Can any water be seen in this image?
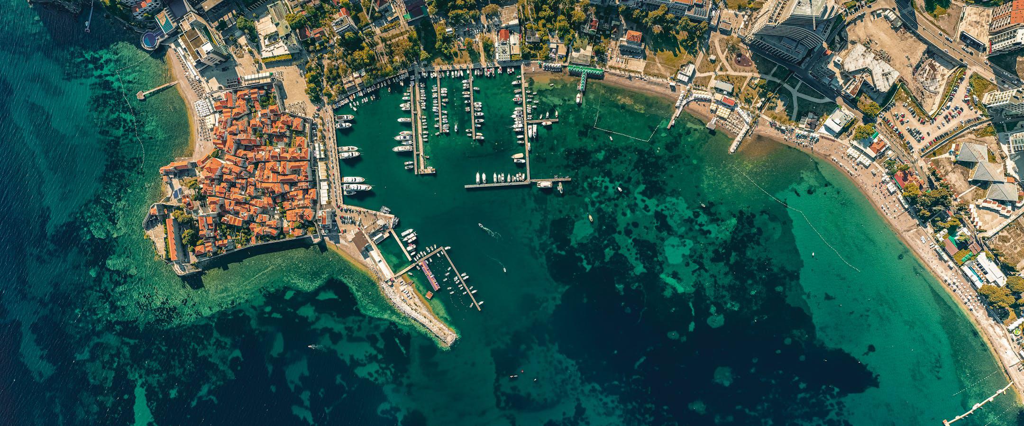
Yes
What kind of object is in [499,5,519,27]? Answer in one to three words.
house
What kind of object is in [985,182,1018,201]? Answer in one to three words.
building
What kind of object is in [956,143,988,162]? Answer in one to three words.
building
